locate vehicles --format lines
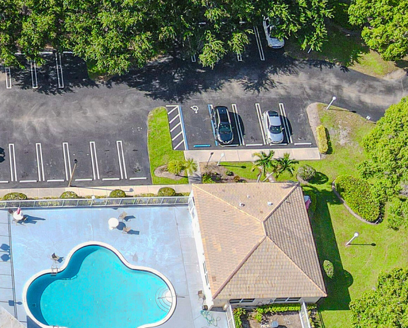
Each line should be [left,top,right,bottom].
[262,110,285,146]
[211,107,236,145]
[260,12,282,46]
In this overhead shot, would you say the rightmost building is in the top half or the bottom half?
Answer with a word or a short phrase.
bottom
